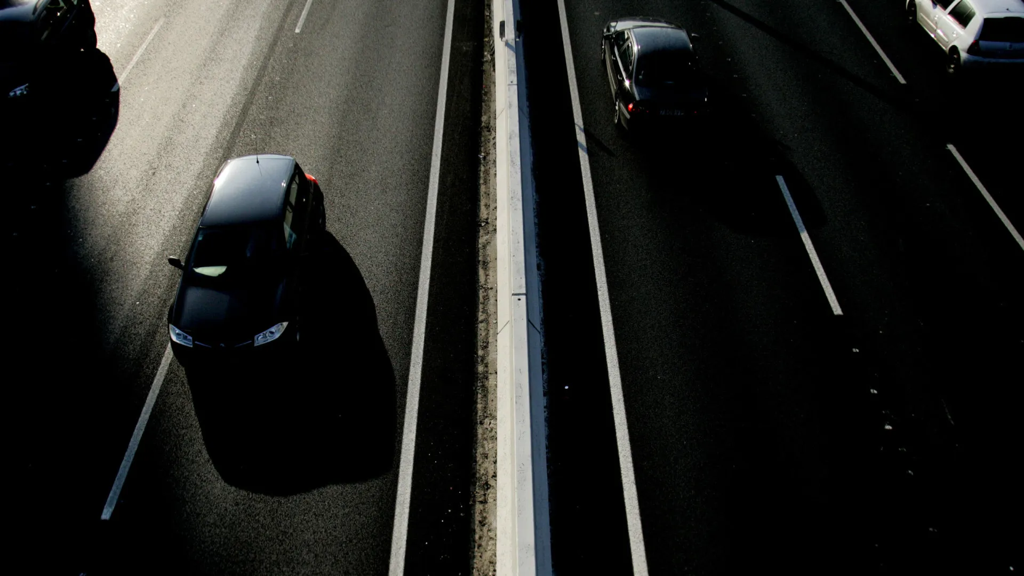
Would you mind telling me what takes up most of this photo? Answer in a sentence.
The scene is dominated by paved ground.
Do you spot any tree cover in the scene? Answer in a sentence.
No, no tree cover is visible.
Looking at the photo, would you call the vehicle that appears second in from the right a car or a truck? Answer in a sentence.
What you see as the vehicle that appears second in from the right is a car.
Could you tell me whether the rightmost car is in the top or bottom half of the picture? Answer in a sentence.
The top half of the photo is where the rightmost car is.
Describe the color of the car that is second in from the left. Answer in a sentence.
In this view, the car that is second in from the left is black.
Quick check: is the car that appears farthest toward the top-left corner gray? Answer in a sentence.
No, from above the car that appears farthest toward the top-left corner looks black.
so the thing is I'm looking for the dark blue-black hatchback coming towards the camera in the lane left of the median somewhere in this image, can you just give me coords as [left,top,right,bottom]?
[167,132,327,363]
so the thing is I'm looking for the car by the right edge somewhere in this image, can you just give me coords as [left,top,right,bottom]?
[911,0,1024,74]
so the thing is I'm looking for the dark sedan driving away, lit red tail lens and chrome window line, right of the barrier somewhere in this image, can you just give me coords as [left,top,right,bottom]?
[603,23,711,138]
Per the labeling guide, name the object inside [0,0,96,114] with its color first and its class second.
black car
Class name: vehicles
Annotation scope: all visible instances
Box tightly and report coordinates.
[0,0,96,114]
[911,0,1024,74]
[167,132,327,363]
[603,23,711,138]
